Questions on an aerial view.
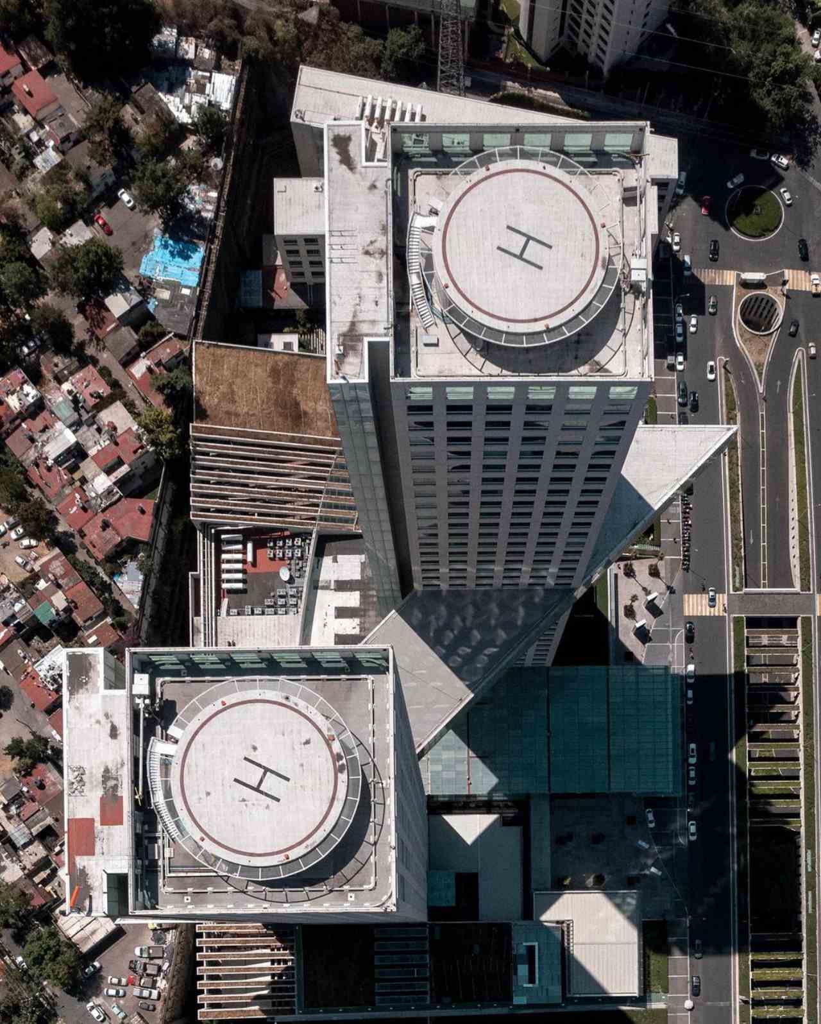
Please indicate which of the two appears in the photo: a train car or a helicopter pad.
helicopter pad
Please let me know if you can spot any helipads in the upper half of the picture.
Yes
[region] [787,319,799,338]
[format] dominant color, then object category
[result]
black vehicle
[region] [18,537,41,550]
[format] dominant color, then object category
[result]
white vehicle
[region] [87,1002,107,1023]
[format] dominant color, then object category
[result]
white car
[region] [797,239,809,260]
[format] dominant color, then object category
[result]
black vehicle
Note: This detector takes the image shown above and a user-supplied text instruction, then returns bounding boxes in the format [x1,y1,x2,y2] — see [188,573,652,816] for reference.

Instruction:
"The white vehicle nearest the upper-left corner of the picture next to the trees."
[116,188,134,210]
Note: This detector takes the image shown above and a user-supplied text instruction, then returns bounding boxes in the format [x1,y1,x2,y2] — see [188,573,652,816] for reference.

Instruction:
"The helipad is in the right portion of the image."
[404,145,621,346]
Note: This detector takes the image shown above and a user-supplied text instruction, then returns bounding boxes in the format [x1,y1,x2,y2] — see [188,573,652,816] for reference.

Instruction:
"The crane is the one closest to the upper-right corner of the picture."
[622,159,649,289]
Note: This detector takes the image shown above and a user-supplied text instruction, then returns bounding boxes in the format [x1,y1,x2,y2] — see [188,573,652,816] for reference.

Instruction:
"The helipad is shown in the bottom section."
[140,677,361,880]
